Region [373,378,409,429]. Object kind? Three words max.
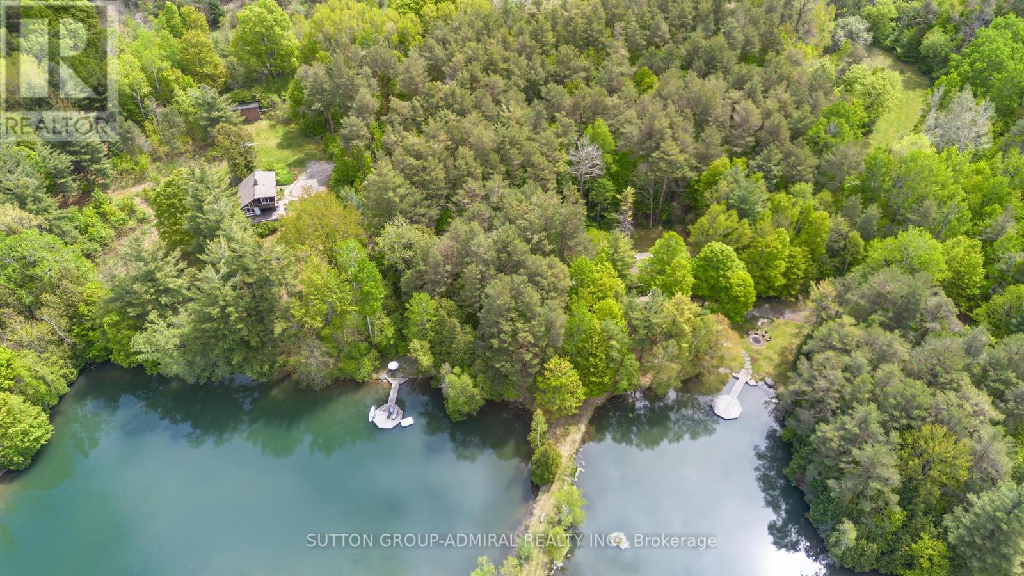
pier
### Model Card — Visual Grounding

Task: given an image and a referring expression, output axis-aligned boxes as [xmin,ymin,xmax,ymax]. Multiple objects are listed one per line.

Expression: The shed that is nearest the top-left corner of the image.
[232,100,262,124]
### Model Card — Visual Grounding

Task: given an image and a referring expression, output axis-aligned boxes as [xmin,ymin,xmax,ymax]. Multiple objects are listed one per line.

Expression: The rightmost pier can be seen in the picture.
[711,369,751,420]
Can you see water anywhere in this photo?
Yes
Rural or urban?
rural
